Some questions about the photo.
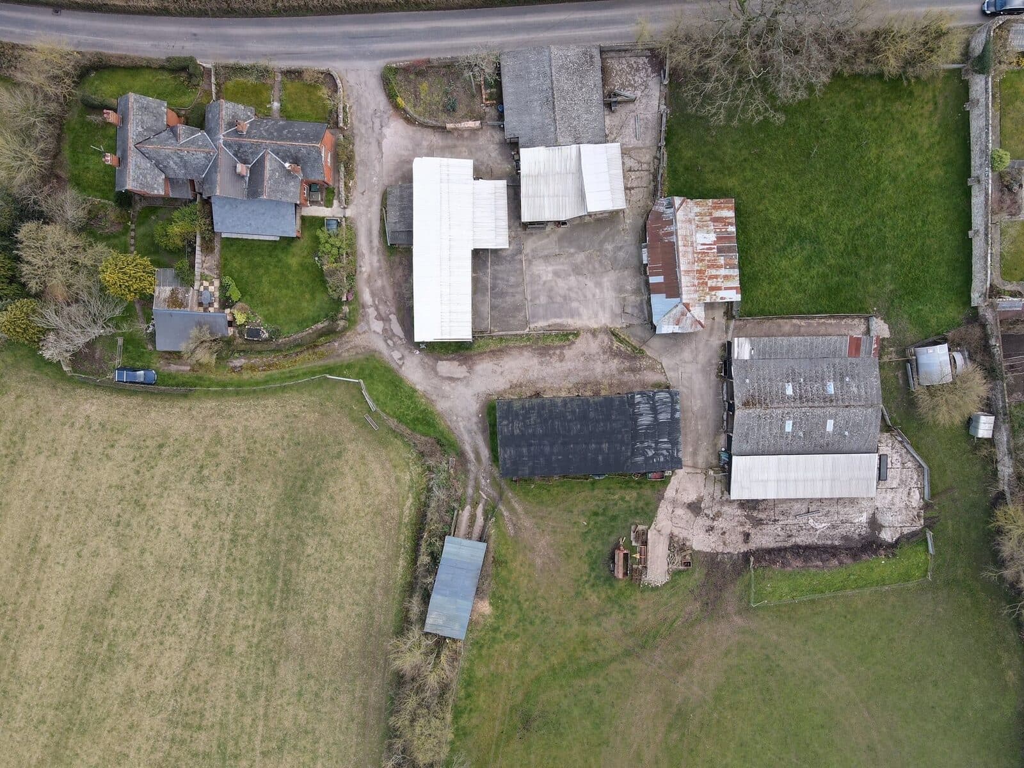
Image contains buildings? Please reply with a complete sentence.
Yes, the frame does contain a building.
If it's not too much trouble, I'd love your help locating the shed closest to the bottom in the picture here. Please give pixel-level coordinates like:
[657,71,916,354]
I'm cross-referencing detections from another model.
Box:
[424,532,487,640]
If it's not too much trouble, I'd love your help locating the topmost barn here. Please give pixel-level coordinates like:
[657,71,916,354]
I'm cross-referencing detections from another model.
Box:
[500,44,606,157]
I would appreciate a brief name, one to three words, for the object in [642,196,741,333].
barn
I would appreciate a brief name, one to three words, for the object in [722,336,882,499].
building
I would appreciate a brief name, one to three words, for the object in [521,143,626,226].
building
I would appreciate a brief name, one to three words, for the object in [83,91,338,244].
house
